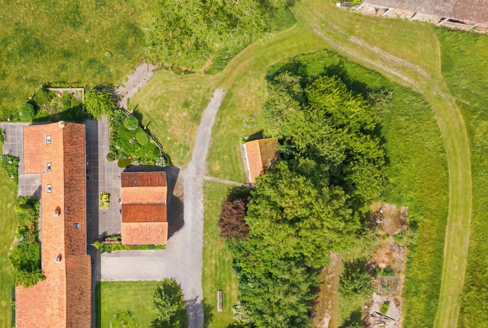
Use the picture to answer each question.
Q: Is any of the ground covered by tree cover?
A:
Yes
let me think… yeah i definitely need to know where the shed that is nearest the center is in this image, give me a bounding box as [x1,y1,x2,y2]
[243,137,283,182]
